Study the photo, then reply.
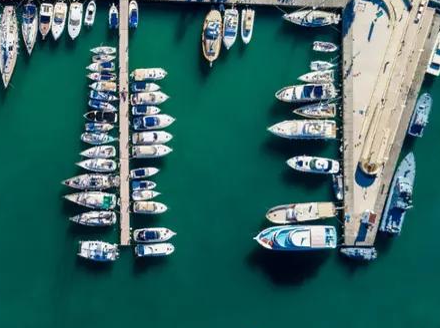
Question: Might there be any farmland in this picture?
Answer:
No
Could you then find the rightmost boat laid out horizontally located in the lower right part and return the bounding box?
[339,246,378,260]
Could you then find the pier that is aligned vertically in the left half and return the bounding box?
[118,0,132,245]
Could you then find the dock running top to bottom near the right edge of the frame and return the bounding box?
[339,0,440,246]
